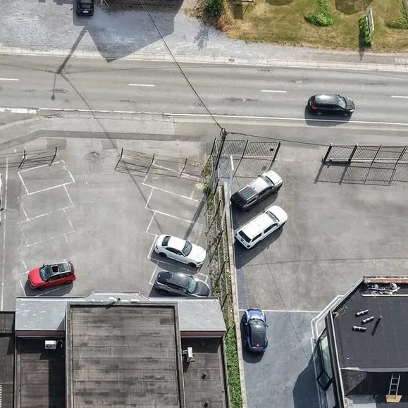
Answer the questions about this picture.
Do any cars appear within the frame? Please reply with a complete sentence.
Yes, looking at the shot, I can spot a car.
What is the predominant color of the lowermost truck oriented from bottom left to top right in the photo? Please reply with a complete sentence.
The lowermost truck oriented from bottom left to top right looks white in the image.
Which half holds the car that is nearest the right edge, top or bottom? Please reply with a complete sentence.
Seen from above, the car that is nearest the right edge lies in the top half of the view.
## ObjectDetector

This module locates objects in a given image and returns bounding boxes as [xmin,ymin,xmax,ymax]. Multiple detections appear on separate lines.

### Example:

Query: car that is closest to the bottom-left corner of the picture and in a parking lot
[27,261,77,289]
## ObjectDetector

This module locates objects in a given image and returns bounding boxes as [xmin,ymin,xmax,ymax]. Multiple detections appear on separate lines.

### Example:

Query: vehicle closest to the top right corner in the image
[306,93,354,119]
